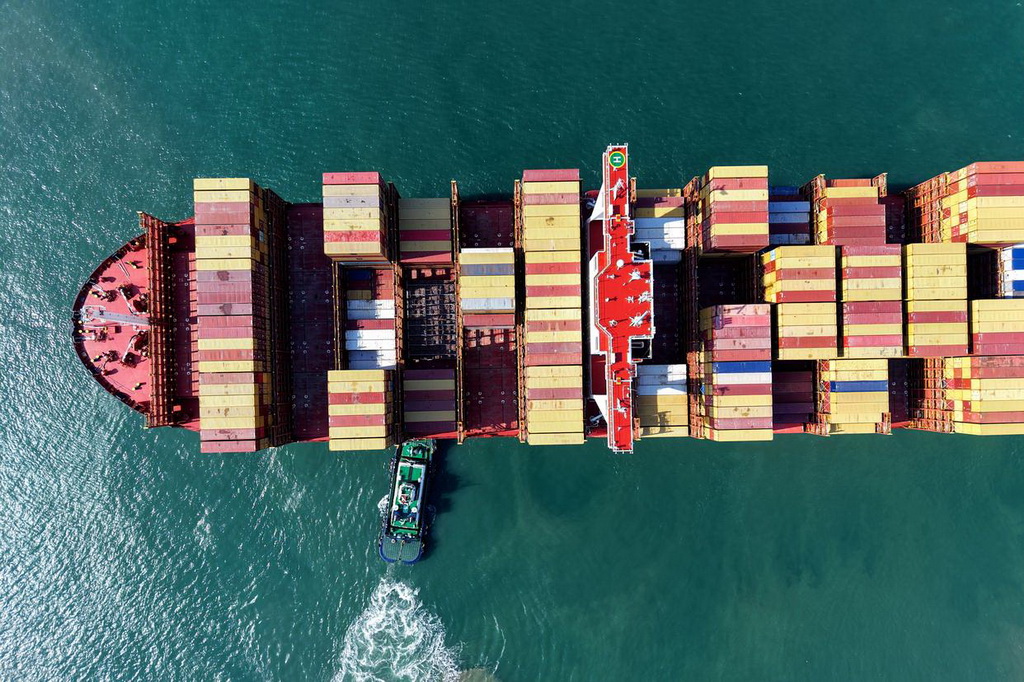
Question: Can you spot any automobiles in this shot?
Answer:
No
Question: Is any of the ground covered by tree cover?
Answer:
No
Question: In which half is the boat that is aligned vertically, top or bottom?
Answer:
bottom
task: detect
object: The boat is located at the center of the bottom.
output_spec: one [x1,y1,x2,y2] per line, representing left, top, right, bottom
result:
[379,440,437,564]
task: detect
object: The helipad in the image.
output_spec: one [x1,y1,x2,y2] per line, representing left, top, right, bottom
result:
[609,151,627,170]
